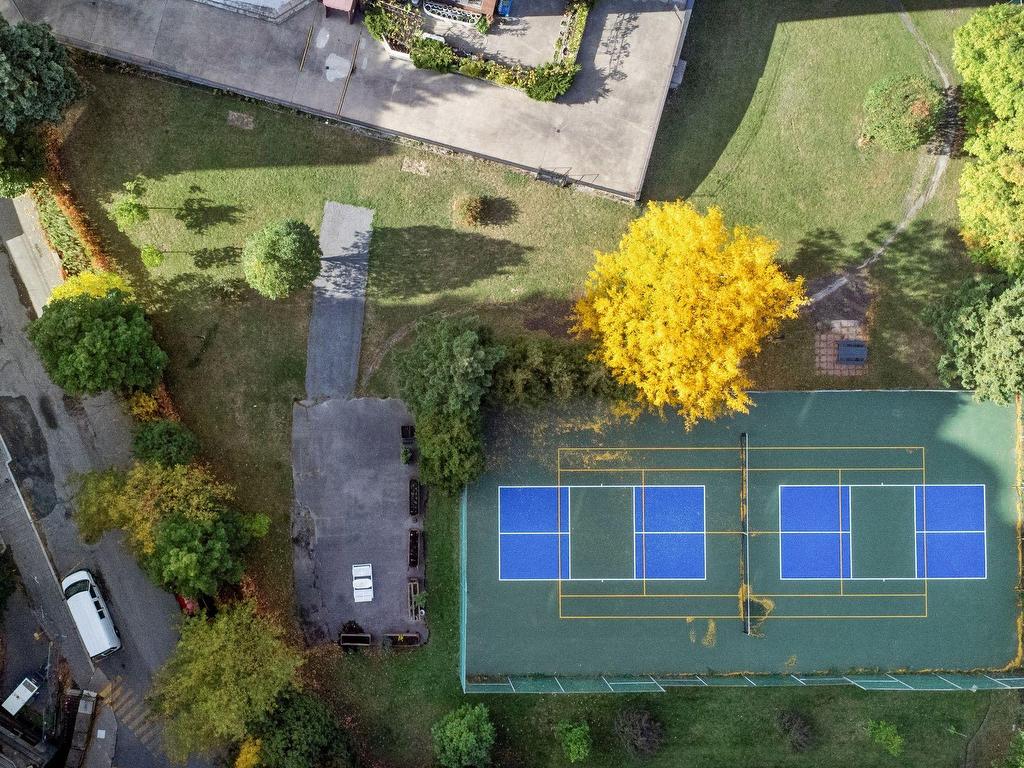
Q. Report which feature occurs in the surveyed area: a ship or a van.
van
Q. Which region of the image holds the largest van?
bottom left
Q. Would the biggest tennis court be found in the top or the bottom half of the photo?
bottom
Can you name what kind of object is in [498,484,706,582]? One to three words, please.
sports court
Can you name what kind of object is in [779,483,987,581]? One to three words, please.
sports court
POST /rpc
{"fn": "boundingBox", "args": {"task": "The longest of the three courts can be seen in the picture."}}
[465,391,1018,678]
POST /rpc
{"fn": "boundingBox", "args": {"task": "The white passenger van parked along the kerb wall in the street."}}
[62,570,120,659]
